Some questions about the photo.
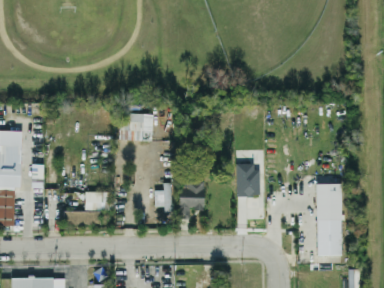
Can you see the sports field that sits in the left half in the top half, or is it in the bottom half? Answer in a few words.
top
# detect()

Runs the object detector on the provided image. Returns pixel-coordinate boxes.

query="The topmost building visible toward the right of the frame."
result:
[236,162,260,197]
